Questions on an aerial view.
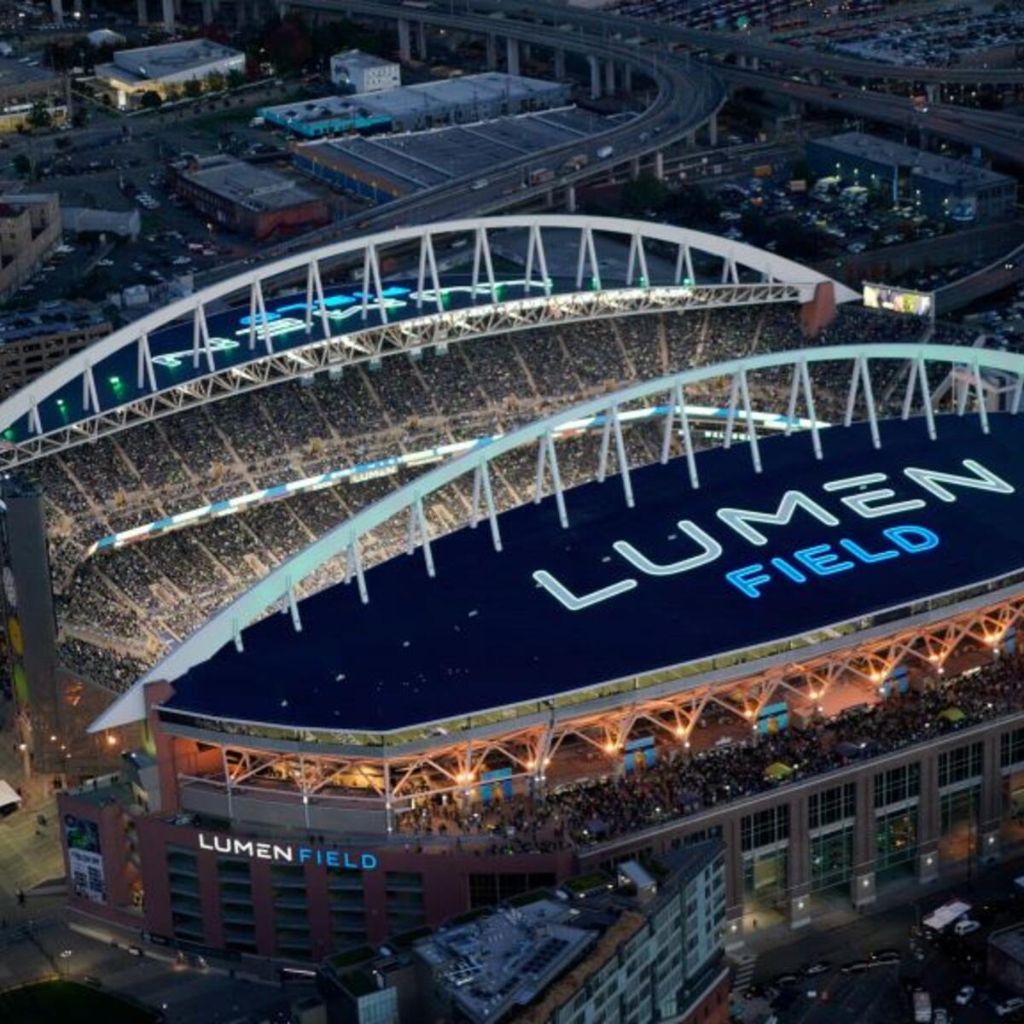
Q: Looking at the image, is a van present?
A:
Yes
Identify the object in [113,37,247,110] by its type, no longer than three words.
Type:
building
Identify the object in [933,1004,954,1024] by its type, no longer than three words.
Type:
car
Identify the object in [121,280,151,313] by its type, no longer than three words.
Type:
house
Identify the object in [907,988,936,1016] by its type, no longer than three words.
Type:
van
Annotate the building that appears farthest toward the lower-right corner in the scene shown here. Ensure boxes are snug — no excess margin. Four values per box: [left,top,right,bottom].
[987,914,1024,987]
